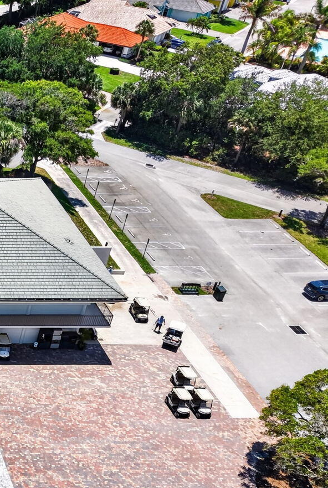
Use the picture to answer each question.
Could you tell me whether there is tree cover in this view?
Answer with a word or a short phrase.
Yes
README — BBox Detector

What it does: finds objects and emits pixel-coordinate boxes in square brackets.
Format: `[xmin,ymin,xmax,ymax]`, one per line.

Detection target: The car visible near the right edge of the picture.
[301,276,328,299]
